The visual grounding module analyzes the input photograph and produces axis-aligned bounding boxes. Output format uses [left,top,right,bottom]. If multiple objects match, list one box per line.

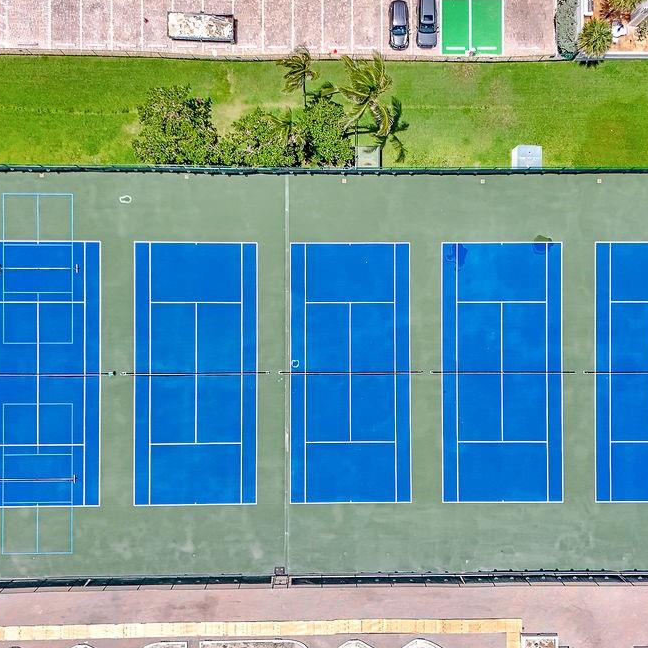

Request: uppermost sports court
[2,194,73,343]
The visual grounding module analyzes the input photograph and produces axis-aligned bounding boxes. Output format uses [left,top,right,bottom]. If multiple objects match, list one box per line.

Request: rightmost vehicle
[416,0,440,49]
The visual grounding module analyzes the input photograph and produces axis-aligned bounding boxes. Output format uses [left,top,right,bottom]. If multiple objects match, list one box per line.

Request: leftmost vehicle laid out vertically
[388,0,411,51]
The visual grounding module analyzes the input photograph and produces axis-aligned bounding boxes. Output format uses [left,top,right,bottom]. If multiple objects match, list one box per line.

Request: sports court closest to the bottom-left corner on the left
[2,404,73,553]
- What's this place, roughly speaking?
sports ground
